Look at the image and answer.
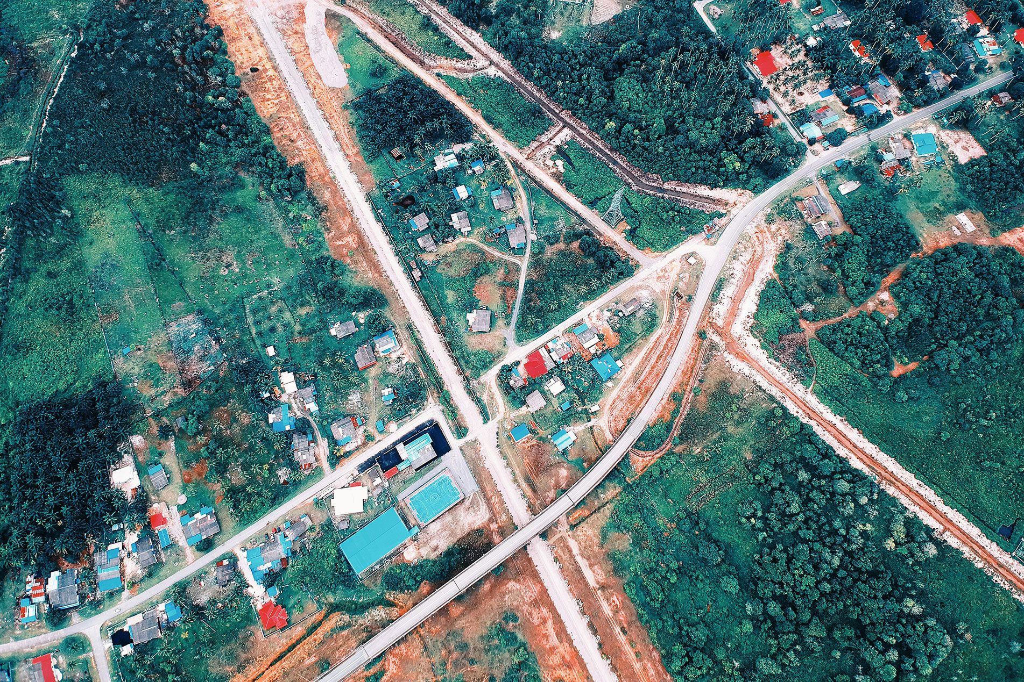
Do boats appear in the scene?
No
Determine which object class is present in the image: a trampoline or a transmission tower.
transmission tower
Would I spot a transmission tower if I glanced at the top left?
No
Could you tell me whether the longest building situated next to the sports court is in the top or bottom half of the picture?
bottom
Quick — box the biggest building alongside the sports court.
[340,507,420,575]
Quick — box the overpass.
[310,310,700,682]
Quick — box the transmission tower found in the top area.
[600,191,624,228]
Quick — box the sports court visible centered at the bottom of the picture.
[406,471,465,527]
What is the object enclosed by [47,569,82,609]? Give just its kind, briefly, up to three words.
house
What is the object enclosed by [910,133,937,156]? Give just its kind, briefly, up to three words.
house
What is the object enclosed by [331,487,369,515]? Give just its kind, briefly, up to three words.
building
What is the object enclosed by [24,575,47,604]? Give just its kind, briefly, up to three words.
shed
